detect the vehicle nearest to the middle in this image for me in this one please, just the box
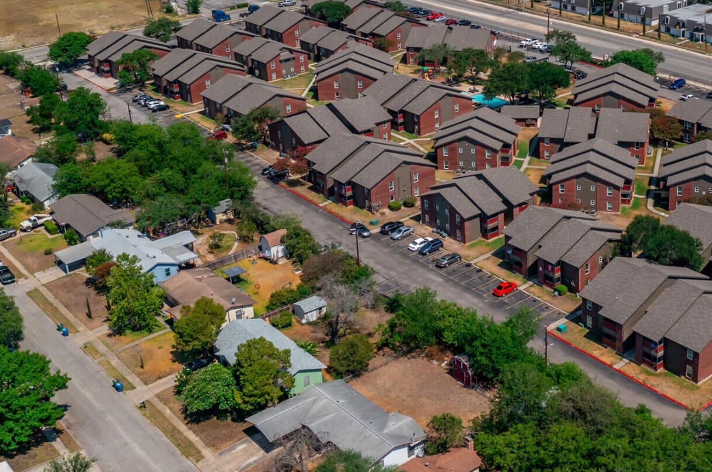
[350,223,372,238]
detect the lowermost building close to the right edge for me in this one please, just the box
[580,257,712,383]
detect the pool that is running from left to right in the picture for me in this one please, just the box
[459,94,504,107]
